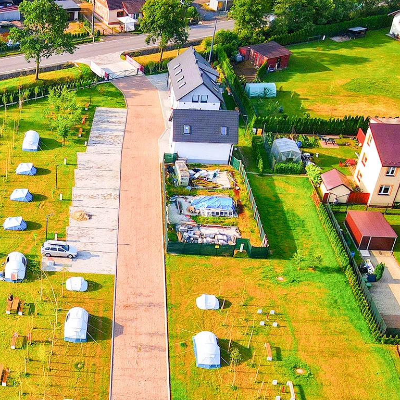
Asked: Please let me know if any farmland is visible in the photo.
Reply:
Yes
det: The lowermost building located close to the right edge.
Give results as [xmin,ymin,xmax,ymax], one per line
[341,211,397,250]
